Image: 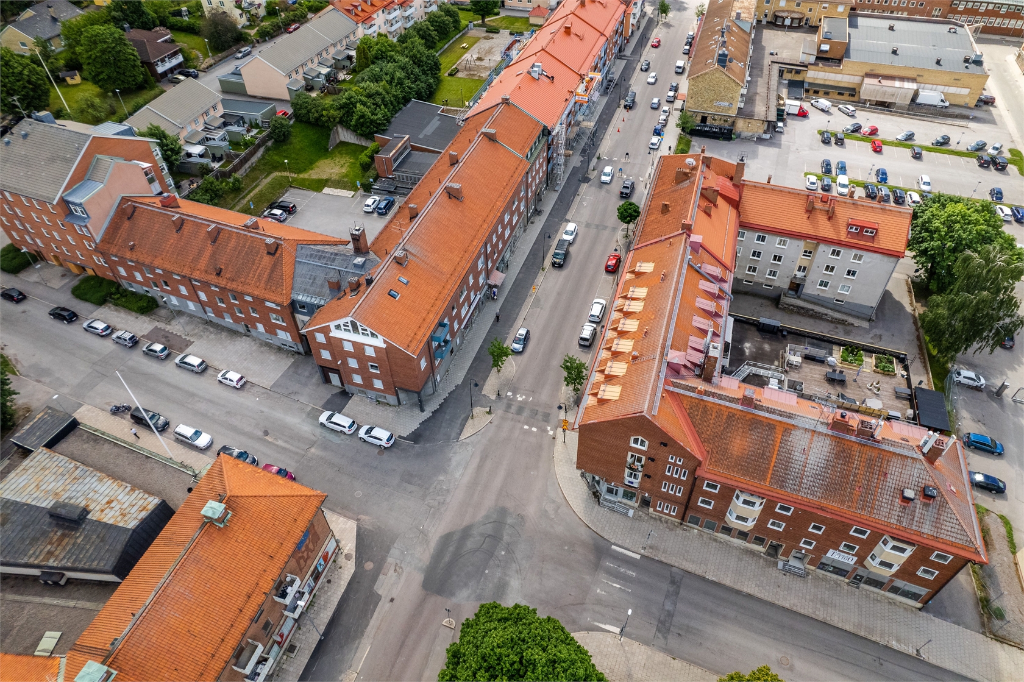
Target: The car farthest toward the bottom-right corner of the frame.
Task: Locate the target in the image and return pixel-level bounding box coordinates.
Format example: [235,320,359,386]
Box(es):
[968,467,1013,498]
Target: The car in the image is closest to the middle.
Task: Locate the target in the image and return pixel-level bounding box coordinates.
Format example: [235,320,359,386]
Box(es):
[509,326,530,354]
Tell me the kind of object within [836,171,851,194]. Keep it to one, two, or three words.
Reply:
vehicle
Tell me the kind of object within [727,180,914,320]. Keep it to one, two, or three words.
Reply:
house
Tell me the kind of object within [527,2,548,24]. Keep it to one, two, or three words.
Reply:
building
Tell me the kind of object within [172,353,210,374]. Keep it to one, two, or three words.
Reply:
car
